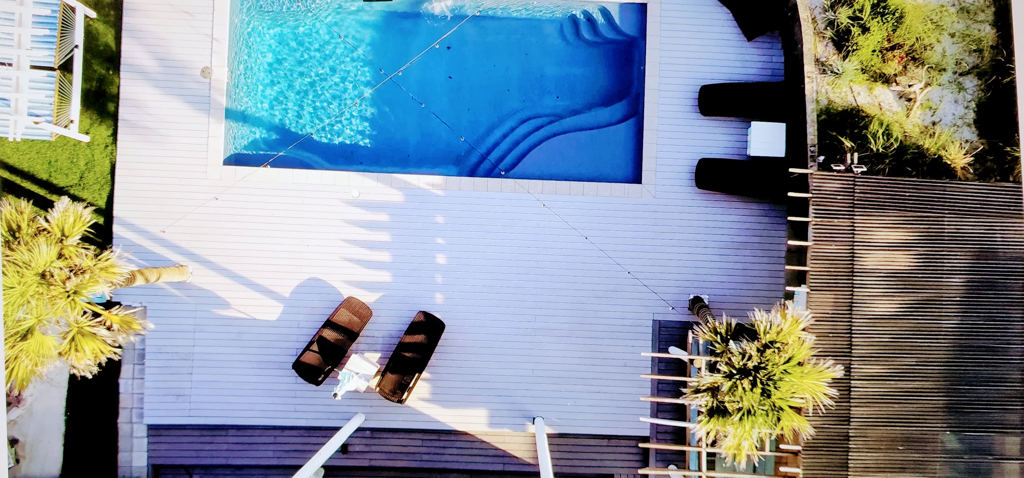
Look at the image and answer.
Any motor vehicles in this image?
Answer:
No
